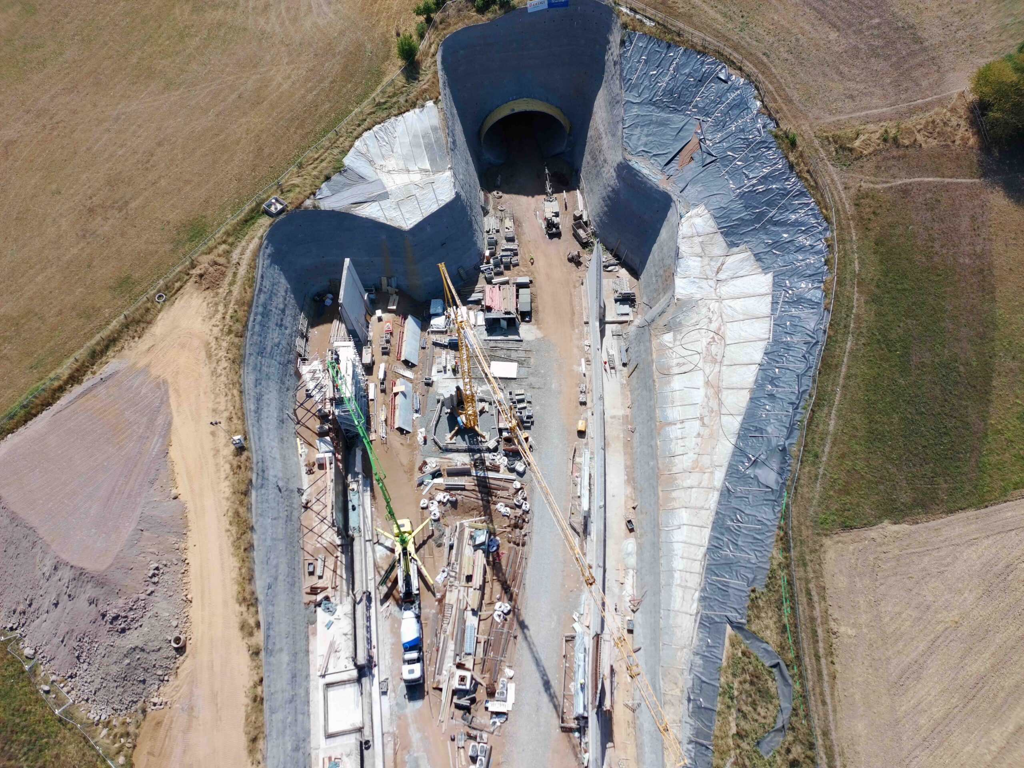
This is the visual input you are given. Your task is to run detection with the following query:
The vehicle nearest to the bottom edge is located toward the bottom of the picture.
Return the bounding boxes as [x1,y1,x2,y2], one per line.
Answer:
[397,608,422,686]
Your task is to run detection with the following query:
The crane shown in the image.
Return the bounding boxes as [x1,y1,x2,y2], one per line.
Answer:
[434,262,695,765]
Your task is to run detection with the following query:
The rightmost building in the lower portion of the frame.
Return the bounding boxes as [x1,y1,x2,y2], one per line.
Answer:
[452,670,472,693]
